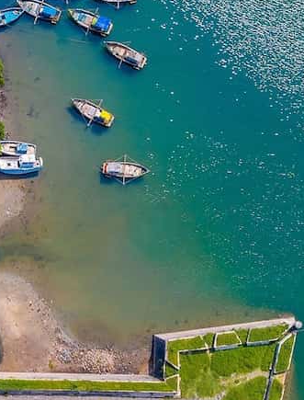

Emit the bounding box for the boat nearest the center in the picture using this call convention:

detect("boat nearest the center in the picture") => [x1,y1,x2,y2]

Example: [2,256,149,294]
[99,149,151,191]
